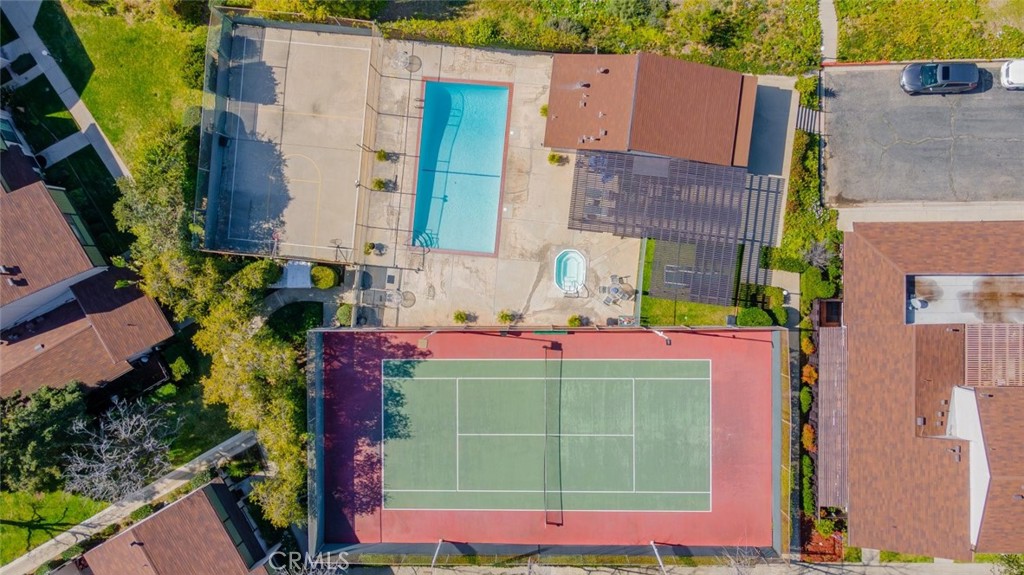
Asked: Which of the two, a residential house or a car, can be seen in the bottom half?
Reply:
residential house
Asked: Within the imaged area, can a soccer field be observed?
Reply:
No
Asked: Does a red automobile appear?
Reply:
No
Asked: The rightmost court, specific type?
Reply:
tennis court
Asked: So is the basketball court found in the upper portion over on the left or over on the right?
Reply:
left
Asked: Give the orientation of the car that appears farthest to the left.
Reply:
from left to right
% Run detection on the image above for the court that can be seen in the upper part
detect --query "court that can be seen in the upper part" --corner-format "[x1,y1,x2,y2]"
[212,23,383,264]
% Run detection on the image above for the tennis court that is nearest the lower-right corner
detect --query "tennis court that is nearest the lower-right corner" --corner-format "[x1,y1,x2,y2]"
[324,328,772,545]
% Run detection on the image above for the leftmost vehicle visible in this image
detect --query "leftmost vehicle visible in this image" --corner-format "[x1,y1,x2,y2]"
[900,61,977,96]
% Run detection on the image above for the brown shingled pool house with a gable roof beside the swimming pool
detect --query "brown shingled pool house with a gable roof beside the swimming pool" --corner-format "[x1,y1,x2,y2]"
[544,53,758,167]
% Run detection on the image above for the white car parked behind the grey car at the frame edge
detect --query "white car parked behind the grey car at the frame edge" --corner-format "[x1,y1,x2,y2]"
[1002,62,1024,91]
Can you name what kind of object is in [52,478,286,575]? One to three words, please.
house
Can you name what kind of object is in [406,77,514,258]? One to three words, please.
swimming pool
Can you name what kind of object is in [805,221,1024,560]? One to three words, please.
house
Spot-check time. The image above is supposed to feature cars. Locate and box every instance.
[1002,62,1024,91]
[900,61,977,96]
